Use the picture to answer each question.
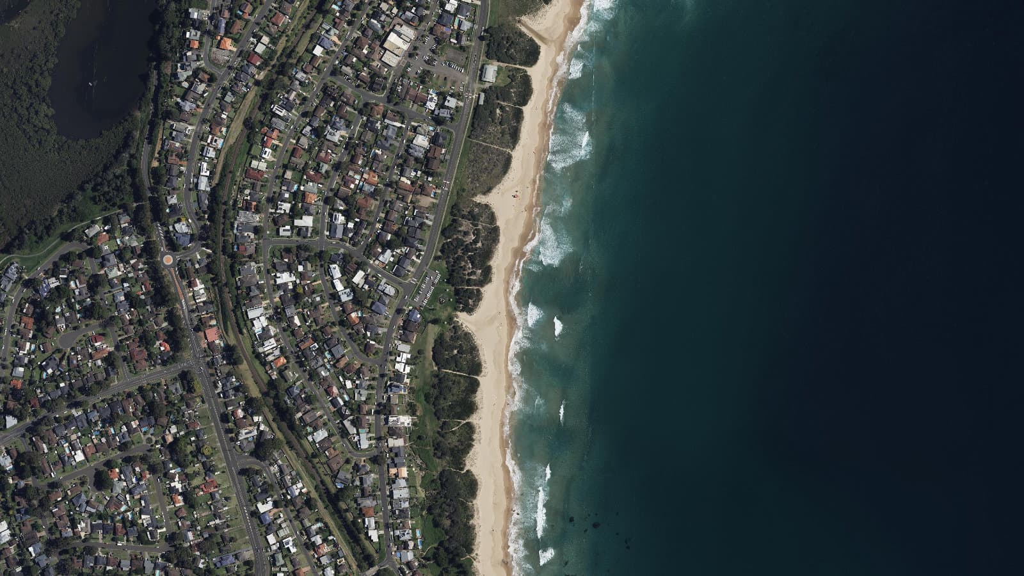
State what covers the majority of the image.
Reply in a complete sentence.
What you mostly see from above here is water.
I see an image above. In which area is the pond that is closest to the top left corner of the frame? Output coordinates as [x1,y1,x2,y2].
[50,0,155,139]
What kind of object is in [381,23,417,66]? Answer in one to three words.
building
